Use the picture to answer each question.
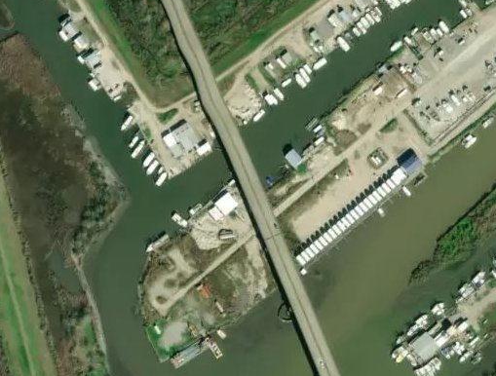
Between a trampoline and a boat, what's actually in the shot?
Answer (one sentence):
There is a boat in the scene.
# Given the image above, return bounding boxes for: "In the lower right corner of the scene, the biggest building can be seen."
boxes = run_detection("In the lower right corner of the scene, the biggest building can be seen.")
[411,334,438,360]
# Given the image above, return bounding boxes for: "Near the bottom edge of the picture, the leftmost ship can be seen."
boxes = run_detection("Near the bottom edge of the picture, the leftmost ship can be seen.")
[169,338,211,367]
